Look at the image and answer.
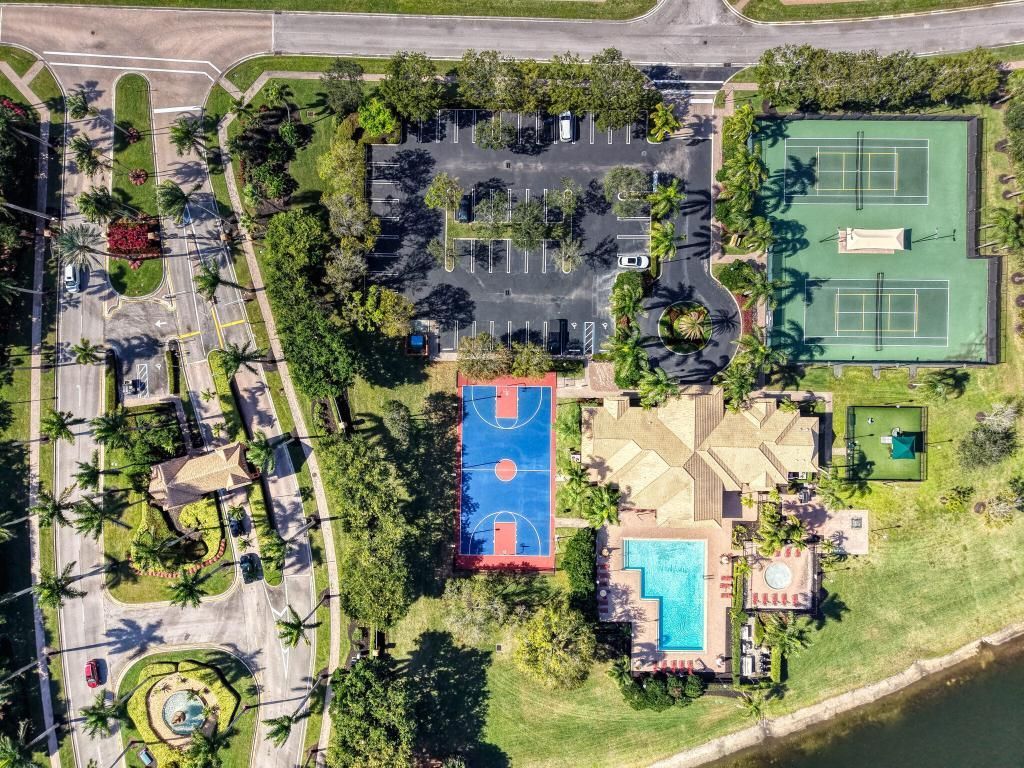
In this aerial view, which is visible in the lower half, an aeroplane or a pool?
pool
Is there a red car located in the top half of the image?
No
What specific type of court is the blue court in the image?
basketball court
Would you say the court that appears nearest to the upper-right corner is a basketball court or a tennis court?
tennis court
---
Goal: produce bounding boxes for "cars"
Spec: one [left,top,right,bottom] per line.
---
[228,517,243,541]
[559,110,574,140]
[542,112,556,140]
[457,193,470,221]
[621,253,650,267]
[62,262,80,291]
[84,659,100,687]
[240,553,257,584]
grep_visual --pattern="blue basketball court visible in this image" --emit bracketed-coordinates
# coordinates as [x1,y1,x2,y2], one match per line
[456,373,557,572]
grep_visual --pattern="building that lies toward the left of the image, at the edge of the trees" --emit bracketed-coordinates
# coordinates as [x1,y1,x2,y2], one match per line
[147,442,257,510]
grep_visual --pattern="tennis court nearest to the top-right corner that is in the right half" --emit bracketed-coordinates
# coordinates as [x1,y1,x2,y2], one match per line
[785,138,929,205]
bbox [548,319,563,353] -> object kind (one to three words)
vehicle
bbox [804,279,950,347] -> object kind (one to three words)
tennis court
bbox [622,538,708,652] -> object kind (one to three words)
swimming pool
